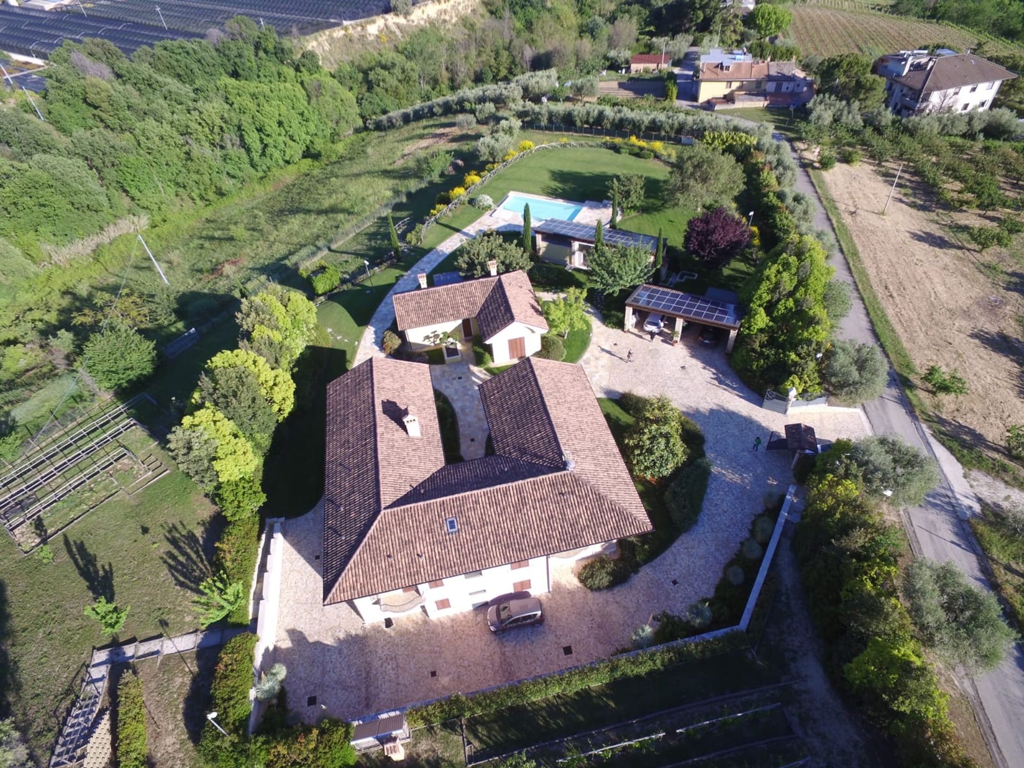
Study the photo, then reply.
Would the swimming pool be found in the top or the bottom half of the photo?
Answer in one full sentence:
Seen from above, the swimming pool lies in the top half of the view.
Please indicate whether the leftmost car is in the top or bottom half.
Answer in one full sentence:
The leftmost car sits in the bottom half of the picture.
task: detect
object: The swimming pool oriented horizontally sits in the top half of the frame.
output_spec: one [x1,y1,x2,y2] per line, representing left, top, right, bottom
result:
[466,190,611,231]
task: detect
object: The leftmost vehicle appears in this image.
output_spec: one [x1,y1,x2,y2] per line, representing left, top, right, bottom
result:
[487,597,545,634]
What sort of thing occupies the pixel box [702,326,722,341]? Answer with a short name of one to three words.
car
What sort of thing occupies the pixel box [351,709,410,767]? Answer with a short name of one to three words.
shed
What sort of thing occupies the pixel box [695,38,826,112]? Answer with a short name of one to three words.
house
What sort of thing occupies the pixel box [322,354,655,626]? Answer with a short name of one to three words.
house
